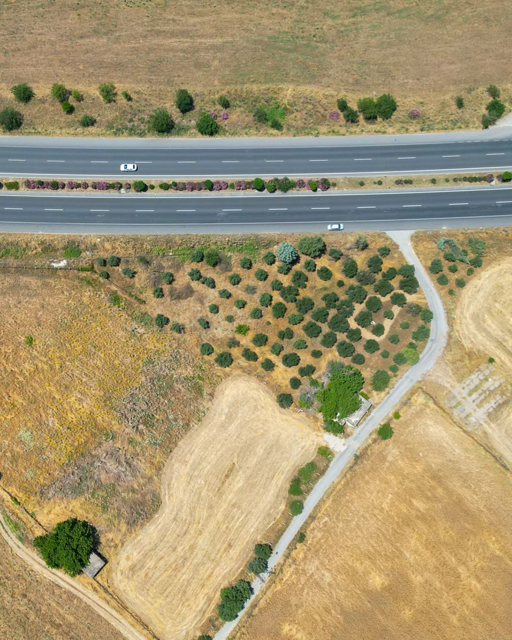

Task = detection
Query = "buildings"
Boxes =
[342,399,372,426]
[80,549,108,578]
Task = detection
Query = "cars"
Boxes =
[120,164,137,171]
[327,223,343,231]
